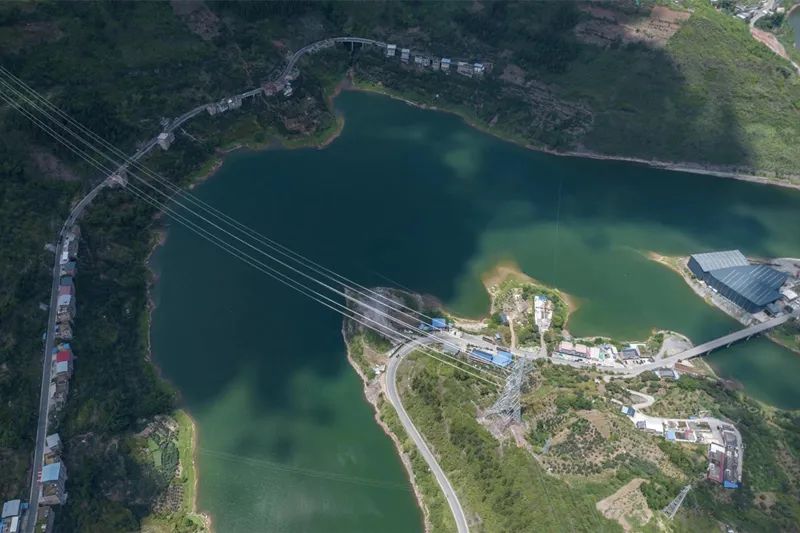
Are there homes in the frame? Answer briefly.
Yes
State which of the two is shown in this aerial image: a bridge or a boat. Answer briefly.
bridge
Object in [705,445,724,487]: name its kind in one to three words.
building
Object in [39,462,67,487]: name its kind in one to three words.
house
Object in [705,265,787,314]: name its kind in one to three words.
building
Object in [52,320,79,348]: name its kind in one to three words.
house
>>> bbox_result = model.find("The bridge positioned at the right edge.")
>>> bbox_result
[685,315,780,358]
